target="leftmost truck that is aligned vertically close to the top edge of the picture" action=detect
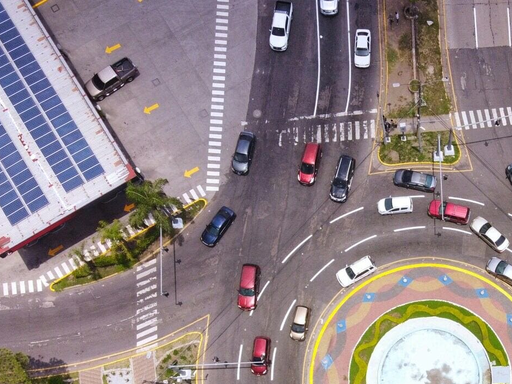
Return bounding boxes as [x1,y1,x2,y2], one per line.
[269,0,293,53]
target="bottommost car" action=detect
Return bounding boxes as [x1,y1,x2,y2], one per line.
[249,336,272,376]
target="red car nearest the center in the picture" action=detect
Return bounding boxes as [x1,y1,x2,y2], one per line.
[298,142,322,185]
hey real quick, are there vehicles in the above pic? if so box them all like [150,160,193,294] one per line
[352,28,372,69]
[485,256,512,286]
[249,336,272,376]
[336,255,377,286]
[230,131,256,175]
[394,167,437,193]
[378,194,413,216]
[288,305,312,342]
[84,55,143,99]
[269,0,293,53]
[198,204,239,247]
[298,142,322,185]
[469,215,512,254]
[330,154,356,202]
[235,263,262,311]
[319,0,339,16]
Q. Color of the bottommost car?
red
